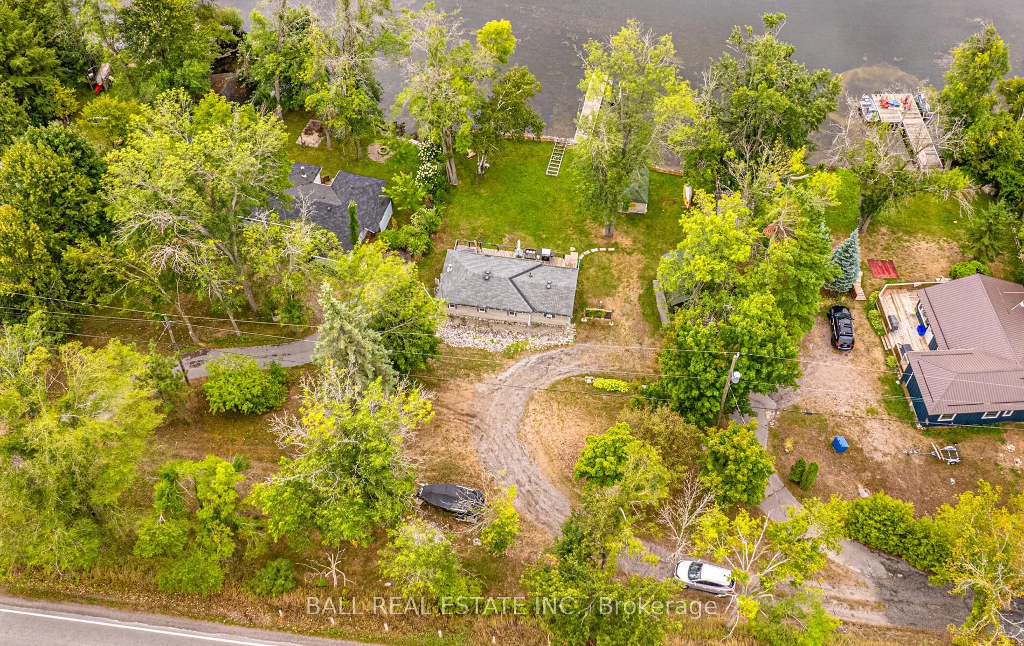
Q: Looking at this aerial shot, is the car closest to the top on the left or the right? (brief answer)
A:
right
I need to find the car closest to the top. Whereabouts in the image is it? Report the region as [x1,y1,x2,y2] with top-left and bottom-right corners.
[826,306,858,353]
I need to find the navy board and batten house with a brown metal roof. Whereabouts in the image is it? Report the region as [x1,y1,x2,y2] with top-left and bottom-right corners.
[898,271,1024,431]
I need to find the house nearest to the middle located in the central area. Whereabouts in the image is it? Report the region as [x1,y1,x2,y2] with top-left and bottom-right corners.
[426,251,580,329]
